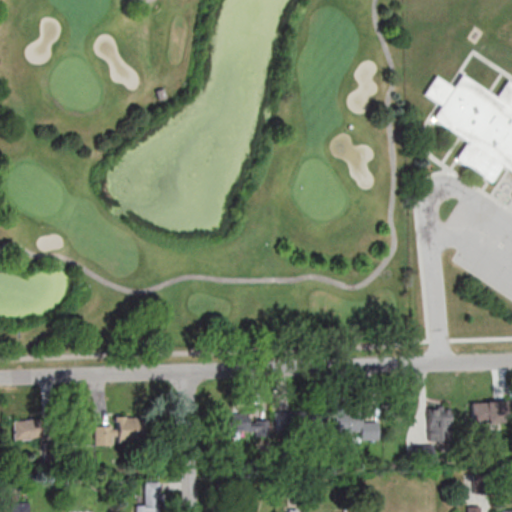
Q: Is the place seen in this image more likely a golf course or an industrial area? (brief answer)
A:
golf course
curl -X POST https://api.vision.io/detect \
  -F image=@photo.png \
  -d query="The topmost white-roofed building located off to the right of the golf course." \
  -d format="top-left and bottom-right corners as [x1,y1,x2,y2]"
[424,72,512,186]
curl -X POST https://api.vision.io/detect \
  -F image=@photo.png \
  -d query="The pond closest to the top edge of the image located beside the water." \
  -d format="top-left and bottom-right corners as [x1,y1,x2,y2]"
[108,0,285,230]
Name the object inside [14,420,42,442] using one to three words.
house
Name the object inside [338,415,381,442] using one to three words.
house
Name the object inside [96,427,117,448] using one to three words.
building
